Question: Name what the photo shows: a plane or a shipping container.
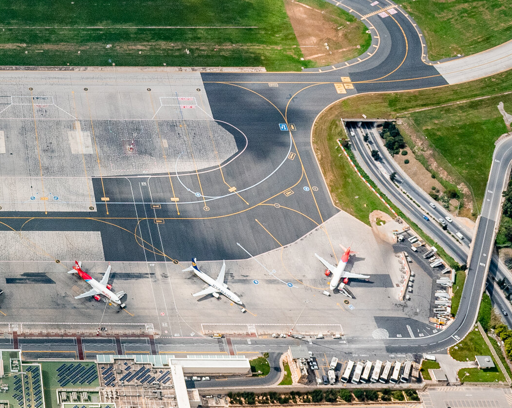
plane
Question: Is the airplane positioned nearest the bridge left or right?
right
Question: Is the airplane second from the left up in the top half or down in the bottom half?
bottom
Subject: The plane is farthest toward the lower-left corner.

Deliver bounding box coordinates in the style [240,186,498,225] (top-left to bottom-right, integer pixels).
[70,260,123,305]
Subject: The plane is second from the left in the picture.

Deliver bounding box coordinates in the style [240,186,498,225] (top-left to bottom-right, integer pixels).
[187,259,244,305]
